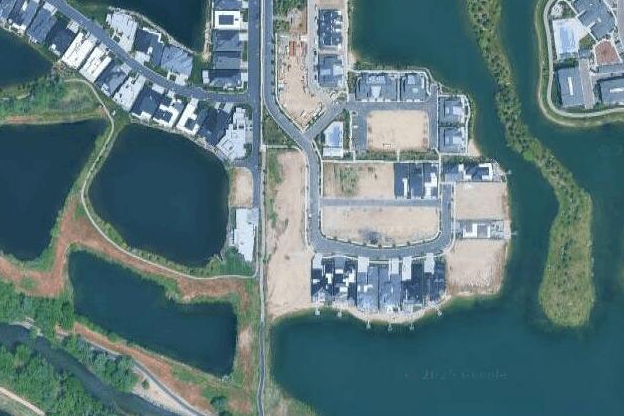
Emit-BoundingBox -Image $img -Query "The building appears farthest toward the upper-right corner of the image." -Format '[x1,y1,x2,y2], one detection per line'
[573,0,616,40]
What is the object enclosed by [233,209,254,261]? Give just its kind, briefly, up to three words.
house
